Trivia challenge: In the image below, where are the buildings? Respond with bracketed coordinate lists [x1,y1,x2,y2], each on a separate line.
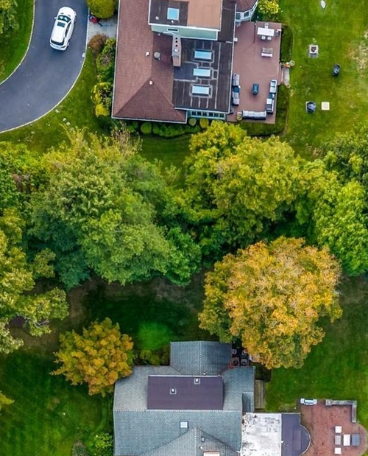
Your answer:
[112,342,310,456]
[112,0,258,128]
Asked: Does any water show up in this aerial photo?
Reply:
No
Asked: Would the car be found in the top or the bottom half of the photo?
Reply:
top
